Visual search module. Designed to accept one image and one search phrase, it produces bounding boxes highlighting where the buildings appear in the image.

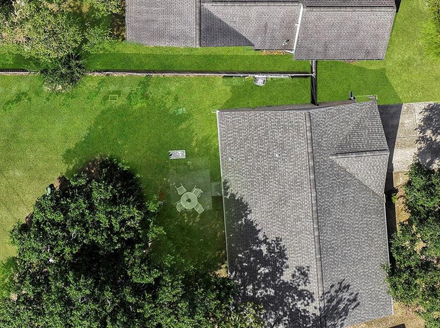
[123,0,397,62]
[211,97,395,328]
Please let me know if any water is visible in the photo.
No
